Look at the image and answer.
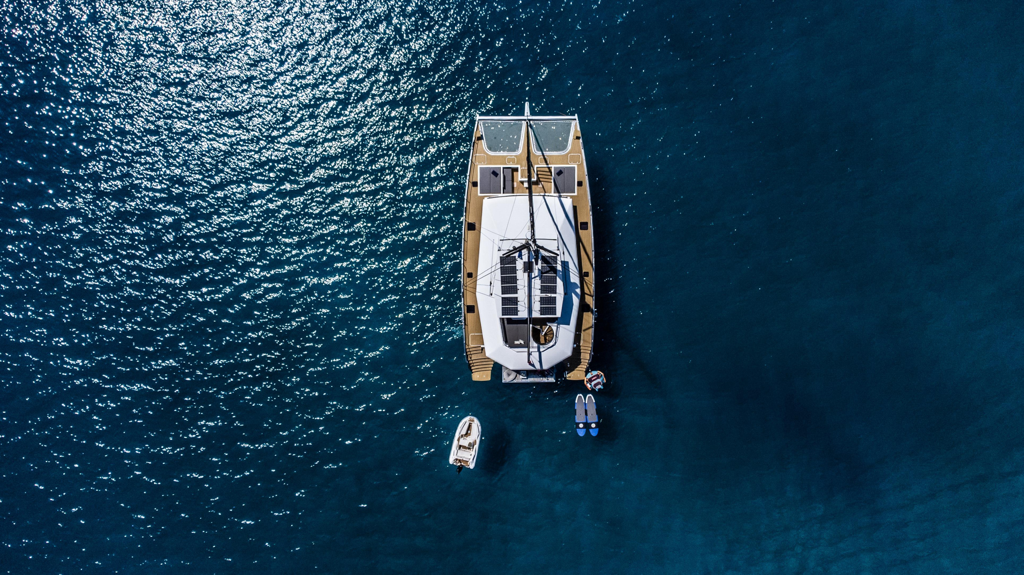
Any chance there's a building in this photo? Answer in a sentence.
No, the frame has no building in it.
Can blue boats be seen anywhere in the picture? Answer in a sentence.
No, the scene contains no blue boat.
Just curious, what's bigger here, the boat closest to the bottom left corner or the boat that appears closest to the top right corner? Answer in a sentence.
The boat that appears closest to the top right corner takes up more space than the boat closest to the bottom left corner does.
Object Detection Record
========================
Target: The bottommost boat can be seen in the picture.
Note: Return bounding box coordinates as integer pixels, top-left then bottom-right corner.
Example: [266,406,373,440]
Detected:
[449,415,480,476]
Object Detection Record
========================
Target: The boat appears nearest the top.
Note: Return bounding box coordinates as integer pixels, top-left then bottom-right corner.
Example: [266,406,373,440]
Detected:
[461,102,595,383]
